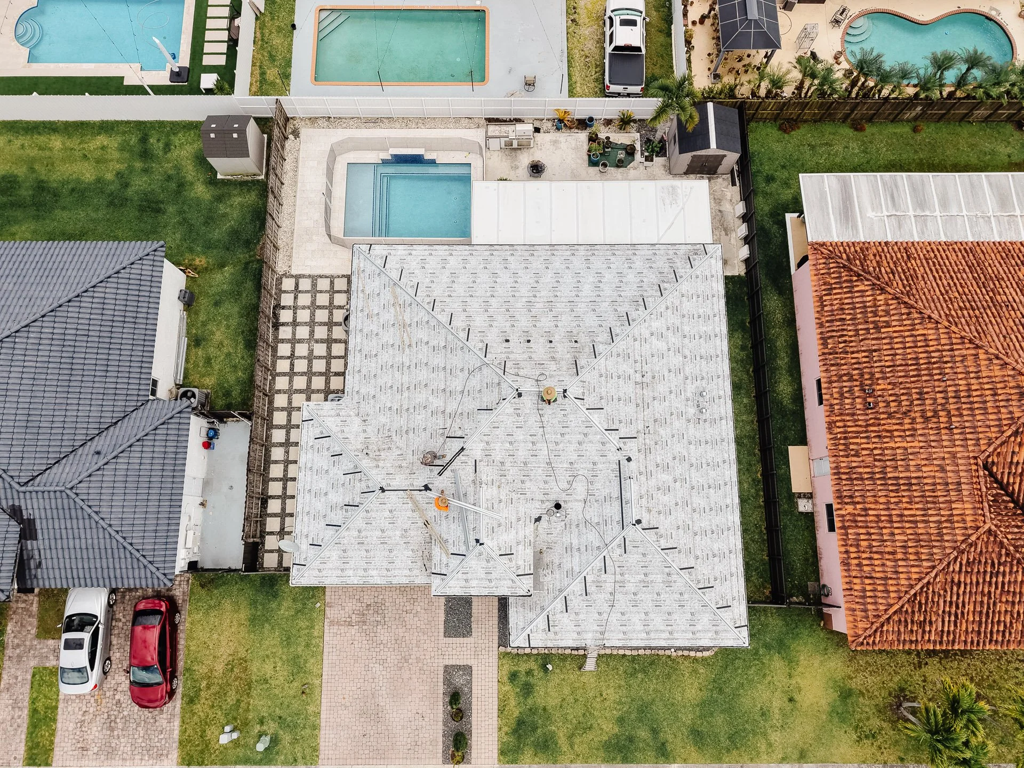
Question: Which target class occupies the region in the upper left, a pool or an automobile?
pool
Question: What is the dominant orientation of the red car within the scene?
vertically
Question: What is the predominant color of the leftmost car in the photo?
white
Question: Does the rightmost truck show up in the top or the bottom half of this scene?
top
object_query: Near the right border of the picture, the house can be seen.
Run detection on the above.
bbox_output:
[796,238,1024,652]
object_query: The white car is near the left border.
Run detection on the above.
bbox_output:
[51,588,113,695]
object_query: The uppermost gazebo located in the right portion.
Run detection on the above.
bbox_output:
[709,0,781,76]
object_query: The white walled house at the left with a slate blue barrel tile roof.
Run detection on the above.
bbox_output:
[0,238,196,606]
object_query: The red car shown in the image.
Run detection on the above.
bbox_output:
[120,598,179,708]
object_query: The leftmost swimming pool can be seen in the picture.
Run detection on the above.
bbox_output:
[6,0,191,75]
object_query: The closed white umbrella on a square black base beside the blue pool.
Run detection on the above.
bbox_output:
[153,37,189,82]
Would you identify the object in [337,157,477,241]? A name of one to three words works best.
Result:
swimming pool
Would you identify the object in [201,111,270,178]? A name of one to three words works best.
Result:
shed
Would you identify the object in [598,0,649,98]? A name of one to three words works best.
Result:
truck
